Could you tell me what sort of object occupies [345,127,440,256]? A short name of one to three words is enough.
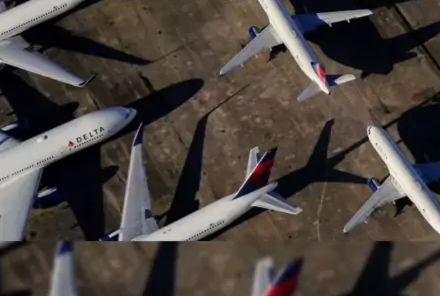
airplane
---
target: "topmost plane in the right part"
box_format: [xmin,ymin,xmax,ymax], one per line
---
[221,0,372,100]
